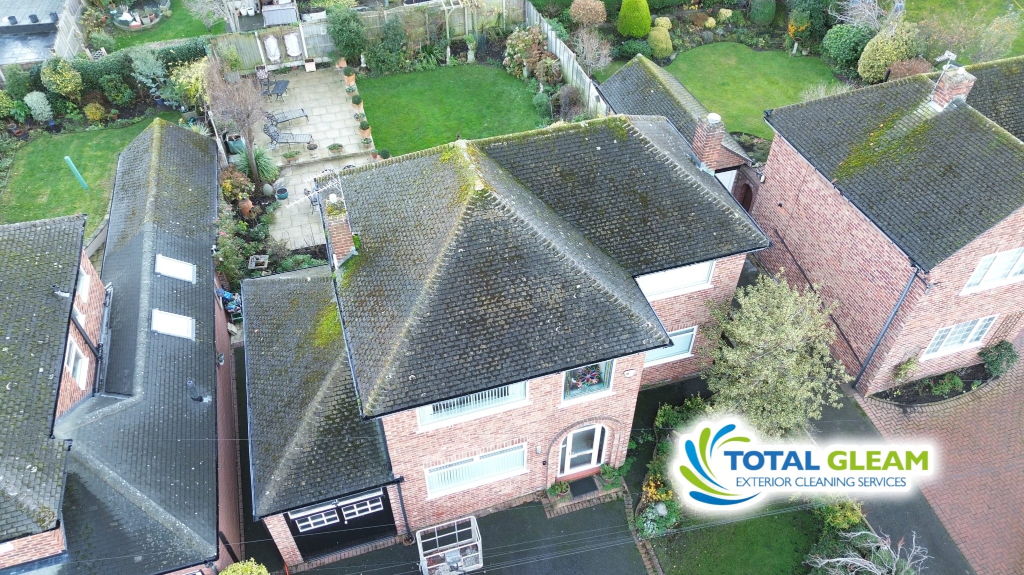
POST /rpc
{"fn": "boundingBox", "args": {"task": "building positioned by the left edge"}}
[0,101,240,575]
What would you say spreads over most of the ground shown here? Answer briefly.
buildings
